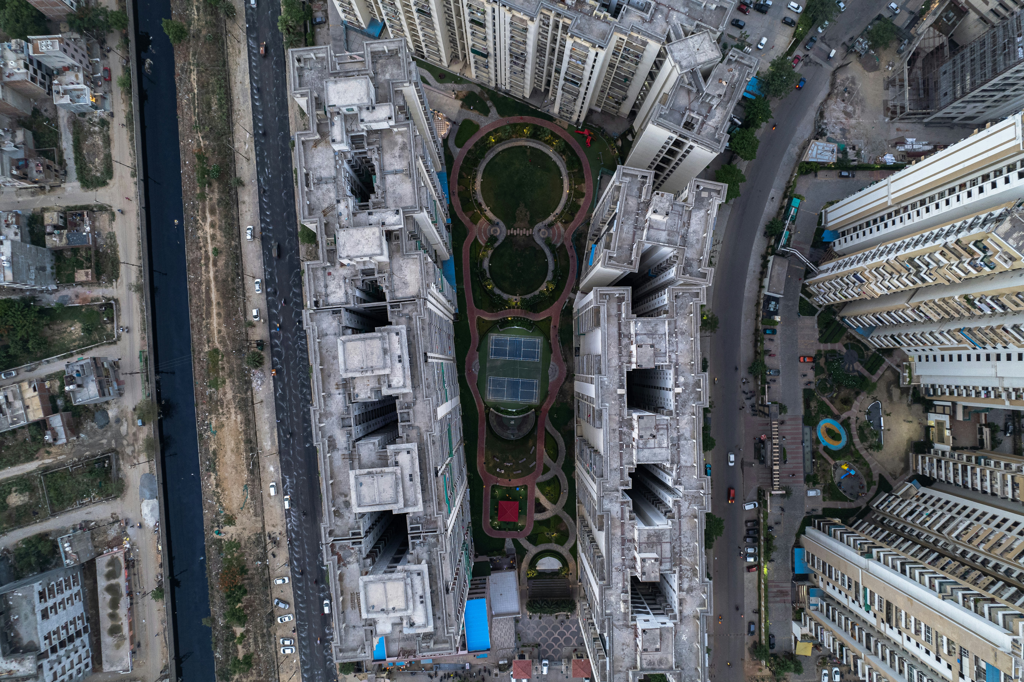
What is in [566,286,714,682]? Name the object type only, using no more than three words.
building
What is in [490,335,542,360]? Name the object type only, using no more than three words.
sports court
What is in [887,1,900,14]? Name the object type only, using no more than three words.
vehicle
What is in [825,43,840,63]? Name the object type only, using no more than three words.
vehicle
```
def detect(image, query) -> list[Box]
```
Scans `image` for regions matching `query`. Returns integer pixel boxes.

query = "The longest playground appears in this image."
[566,123,617,188]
